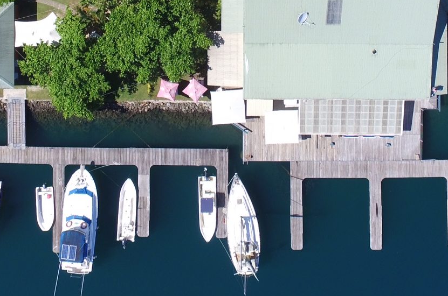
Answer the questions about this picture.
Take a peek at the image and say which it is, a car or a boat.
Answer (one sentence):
The one in the frame is a boat.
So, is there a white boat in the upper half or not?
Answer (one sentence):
No, in the upper half there is no white boat.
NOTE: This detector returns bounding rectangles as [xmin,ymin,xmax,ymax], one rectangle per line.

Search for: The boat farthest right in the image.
[224,172,259,296]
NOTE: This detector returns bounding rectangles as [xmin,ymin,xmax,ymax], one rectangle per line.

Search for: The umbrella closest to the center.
[210,89,245,125]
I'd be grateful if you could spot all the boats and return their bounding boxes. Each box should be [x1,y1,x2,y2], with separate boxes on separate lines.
[54,164,98,295]
[224,172,259,296]
[35,182,55,231]
[117,178,138,250]
[198,169,217,243]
